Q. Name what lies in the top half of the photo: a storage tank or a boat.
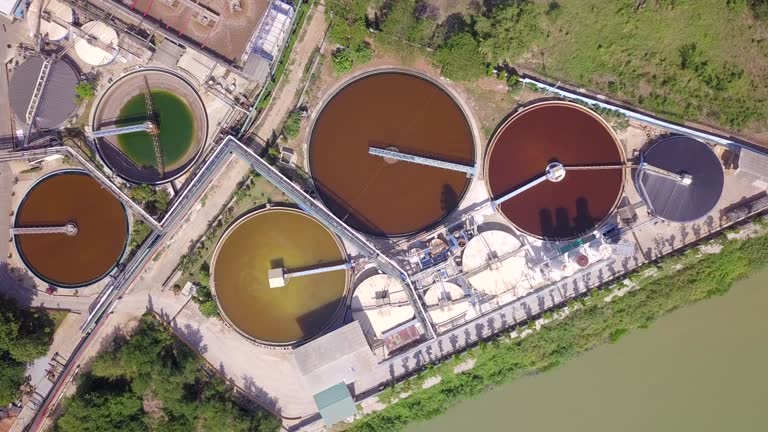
storage tank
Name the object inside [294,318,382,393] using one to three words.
building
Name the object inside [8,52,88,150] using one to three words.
storage tank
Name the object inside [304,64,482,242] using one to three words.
storage tank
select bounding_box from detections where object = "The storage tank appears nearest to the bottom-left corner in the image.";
[7,170,133,287]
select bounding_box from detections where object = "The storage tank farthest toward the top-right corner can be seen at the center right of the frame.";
[633,136,724,220]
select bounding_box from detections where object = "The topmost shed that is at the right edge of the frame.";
[724,156,768,197]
